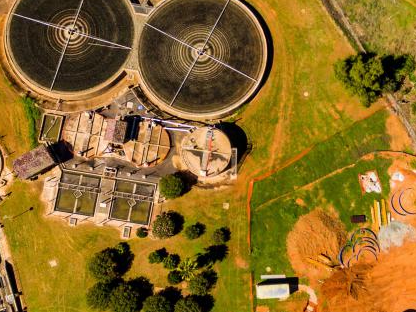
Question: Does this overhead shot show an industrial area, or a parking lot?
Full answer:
What you see here is an industrial area.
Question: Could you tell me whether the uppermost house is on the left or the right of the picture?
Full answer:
It is on the left.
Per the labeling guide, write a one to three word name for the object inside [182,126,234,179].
storage tank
